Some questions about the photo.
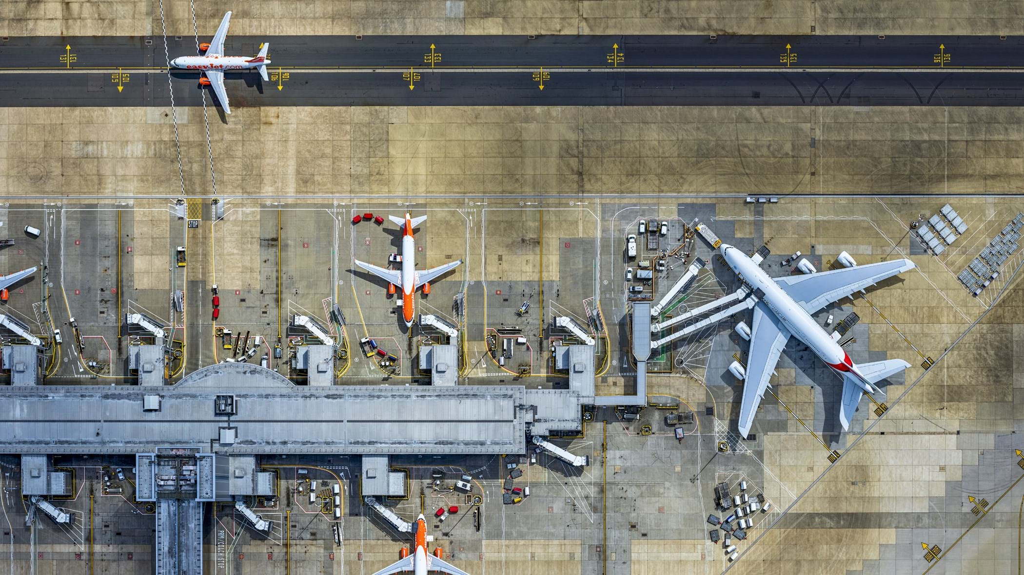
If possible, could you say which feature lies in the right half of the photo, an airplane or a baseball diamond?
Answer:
airplane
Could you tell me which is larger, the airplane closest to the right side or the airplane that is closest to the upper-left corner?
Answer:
the airplane closest to the right side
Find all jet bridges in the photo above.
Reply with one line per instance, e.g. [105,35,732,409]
[554,316,595,345]
[31,495,78,523]
[651,258,705,316]
[0,311,48,346]
[235,499,274,532]
[420,314,458,337]
[126,313,169,337]
[532,436,588,466]
[293,315,335,345]
[365,496,416,533]
[651,290,765,349]
[651,282,752,333]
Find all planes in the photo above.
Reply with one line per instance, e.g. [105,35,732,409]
[171,9,272,113]
[375,513,469,575]
[719,244,921,441]
[0,267,37,301]
[354,213,461,327]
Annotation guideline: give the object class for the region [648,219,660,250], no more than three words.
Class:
vehicle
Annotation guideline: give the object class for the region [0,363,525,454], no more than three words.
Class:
building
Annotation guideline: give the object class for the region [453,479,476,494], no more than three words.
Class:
vehicle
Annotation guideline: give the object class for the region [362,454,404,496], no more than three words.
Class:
building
